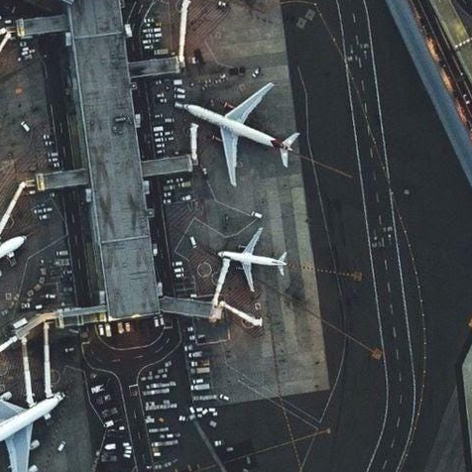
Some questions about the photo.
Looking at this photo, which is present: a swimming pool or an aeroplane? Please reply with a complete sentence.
The one in the frame is an aeroplane.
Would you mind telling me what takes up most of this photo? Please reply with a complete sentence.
The scene is dominated by paved ground.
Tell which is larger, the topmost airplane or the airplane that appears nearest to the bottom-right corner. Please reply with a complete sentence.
It is the topmost airplane that is larger, not the airplane that appears nearest to the bottom-right corner.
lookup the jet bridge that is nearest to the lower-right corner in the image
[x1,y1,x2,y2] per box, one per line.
[213,298,266,327]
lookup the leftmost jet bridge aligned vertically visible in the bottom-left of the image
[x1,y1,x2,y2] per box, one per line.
[19,334,33,408]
